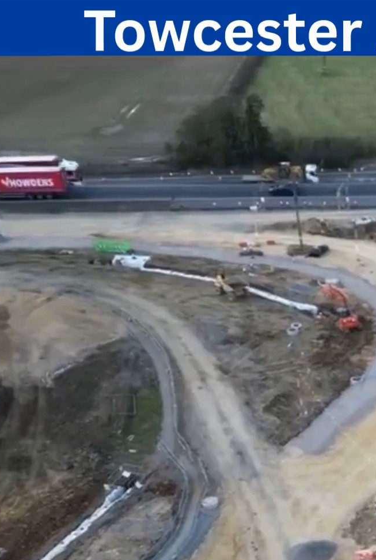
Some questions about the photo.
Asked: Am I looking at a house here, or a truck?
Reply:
truck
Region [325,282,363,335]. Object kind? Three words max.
work vehicle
